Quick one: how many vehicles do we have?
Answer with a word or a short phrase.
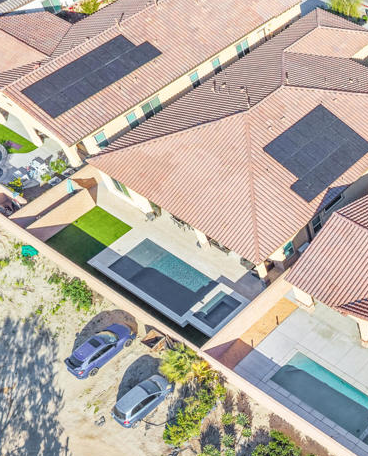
2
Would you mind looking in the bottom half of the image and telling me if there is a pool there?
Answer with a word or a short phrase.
Yes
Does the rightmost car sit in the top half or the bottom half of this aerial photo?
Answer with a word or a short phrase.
bottom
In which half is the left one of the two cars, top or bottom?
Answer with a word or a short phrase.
bottom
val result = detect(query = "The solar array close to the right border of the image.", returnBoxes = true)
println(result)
[259,99,368,207]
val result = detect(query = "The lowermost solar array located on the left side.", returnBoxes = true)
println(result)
[15,29,164,112]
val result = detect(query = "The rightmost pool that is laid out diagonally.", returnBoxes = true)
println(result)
[263,346,368,442]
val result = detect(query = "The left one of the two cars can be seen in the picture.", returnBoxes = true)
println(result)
[58,323,140,385]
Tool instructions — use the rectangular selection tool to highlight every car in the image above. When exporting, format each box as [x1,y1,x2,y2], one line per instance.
[58,323,140,385]
[103,369,181,433]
